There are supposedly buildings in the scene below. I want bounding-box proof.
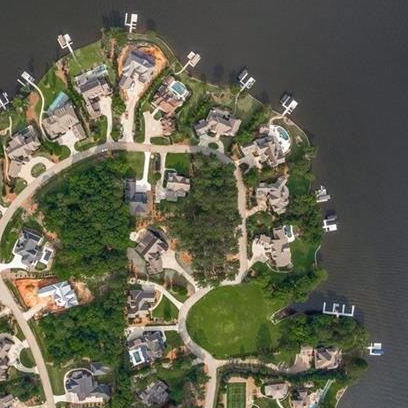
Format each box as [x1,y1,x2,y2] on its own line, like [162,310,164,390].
[239,131,286,165]
[13,230,42,267]
[127,327,167,362]
[257,227,292,267]
[150,76,180,116]
[264,383,289,401]
[0,393,16,408]
[137,378,171,408]
[4,125,42,175]
[116,45,157,90]
[79,77,116,118]
[123,287,156,317]
[41,103,88,139]
[313,345,340,370]
[128,224,163,271]
[166,172,191,202]
[160,117,177,136]
[65,371,112,400]
[191,108,243,136]
[124,177,149,215]
[253,172,292,216]
[35,279,84,309]
[290,388,308,408]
